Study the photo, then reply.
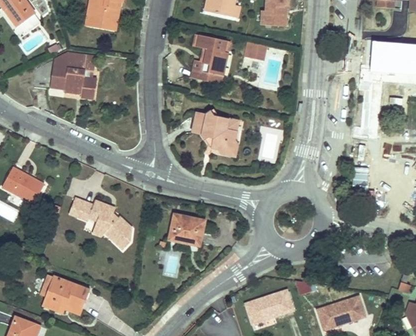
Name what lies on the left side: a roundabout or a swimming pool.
swimming pool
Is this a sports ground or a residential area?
residential area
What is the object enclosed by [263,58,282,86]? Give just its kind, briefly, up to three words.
swimming pool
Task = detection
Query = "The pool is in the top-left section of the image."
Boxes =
[21,32,46,53]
